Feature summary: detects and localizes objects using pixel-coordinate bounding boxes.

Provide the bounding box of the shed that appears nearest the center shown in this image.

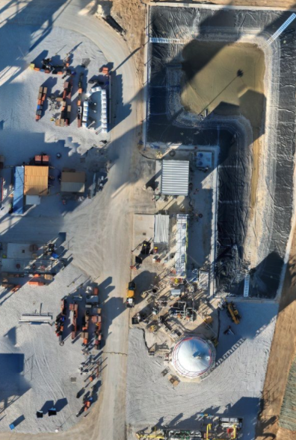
[160,160,189,196]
